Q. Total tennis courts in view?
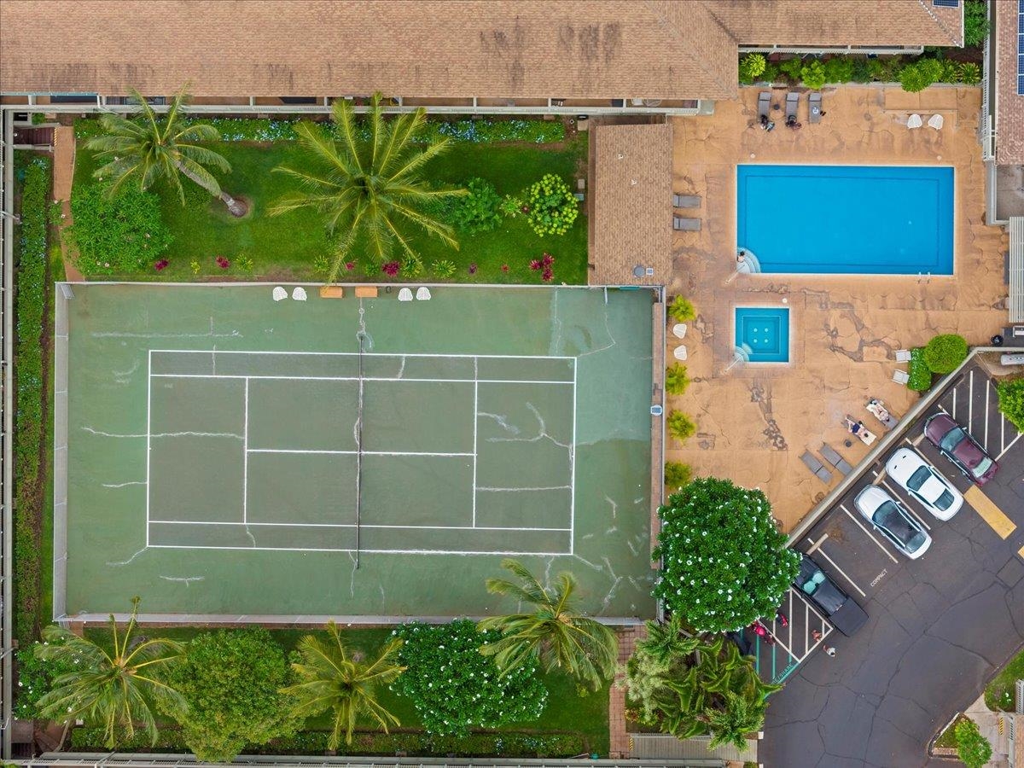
1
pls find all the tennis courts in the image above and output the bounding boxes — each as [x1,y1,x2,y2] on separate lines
[67,286,658,619]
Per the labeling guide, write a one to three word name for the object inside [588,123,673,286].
building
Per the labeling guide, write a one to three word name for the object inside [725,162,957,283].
swimming pool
